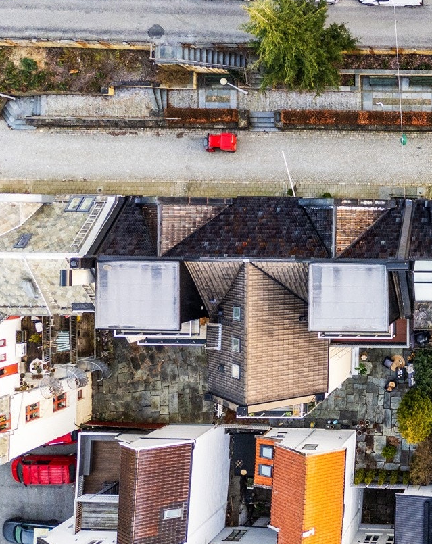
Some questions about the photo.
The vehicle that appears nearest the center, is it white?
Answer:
No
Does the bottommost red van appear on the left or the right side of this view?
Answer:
left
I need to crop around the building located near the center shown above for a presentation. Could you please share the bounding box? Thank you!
[84,194,416,418]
